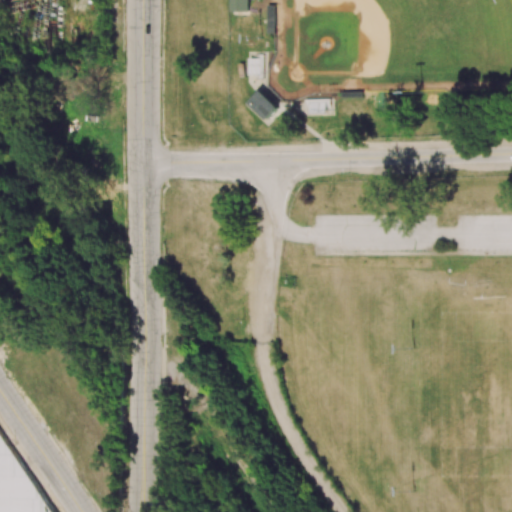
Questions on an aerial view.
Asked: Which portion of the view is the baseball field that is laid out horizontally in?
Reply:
top right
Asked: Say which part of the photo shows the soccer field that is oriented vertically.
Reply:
bottom right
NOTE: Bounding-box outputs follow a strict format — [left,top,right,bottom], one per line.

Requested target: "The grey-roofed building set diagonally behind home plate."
[246,91,280,118]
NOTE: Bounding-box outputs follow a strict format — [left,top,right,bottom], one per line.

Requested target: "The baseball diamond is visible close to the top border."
[269,0,512,101]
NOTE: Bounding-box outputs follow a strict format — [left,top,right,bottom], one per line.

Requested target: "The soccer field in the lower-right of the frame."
[442,312,512,512]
